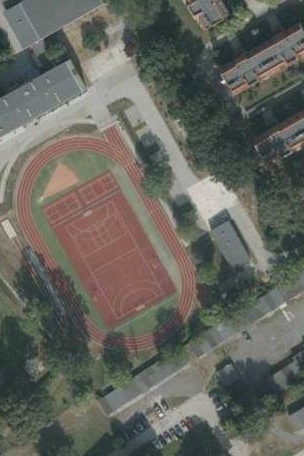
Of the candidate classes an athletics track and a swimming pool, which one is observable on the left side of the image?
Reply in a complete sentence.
The feature located on the left side of the image is an athletics track.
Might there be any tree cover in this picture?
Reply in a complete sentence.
Yes, tree cover shows up in the scene.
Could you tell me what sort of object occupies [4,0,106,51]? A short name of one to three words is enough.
building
